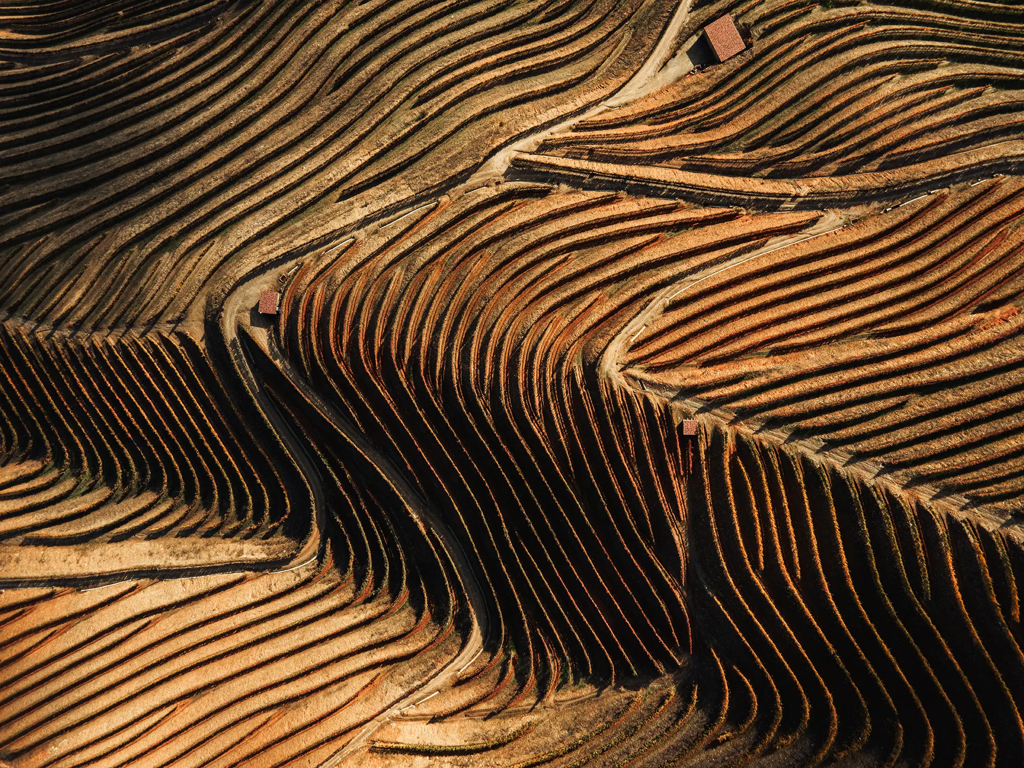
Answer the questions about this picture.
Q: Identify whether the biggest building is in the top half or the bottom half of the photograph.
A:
top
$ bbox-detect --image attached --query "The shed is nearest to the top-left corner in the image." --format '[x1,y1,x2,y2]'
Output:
[259,291,280,314]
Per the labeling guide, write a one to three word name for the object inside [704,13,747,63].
building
